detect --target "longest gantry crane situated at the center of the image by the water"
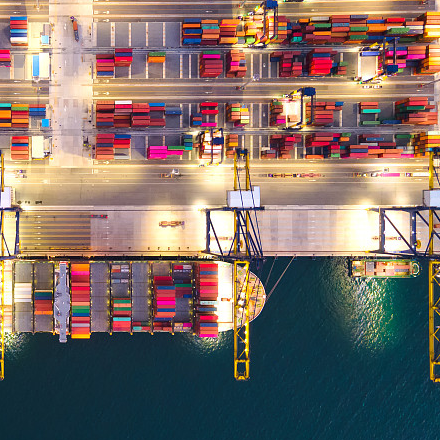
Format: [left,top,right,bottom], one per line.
[196,148,267,382]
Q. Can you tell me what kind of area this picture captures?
port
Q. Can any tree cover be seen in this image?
No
